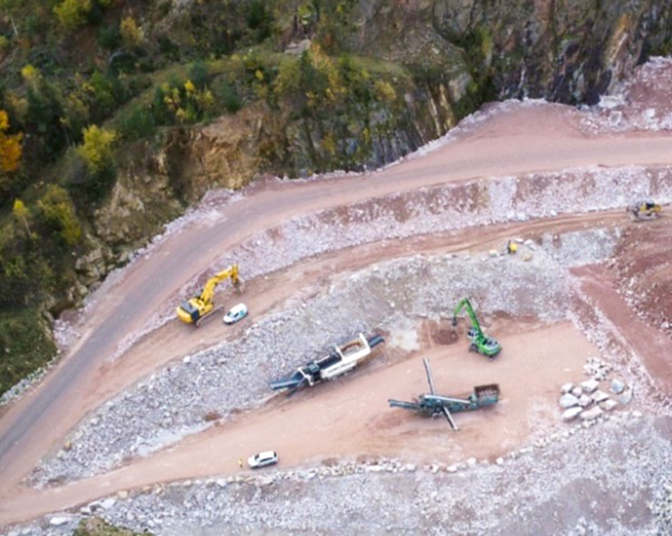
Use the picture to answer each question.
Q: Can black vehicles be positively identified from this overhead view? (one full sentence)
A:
No, the photo shows no black vehicle.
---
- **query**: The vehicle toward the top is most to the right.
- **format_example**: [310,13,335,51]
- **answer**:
[627,199,661,221]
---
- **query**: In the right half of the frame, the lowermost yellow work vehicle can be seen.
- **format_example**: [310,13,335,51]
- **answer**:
[504,239,517,253]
